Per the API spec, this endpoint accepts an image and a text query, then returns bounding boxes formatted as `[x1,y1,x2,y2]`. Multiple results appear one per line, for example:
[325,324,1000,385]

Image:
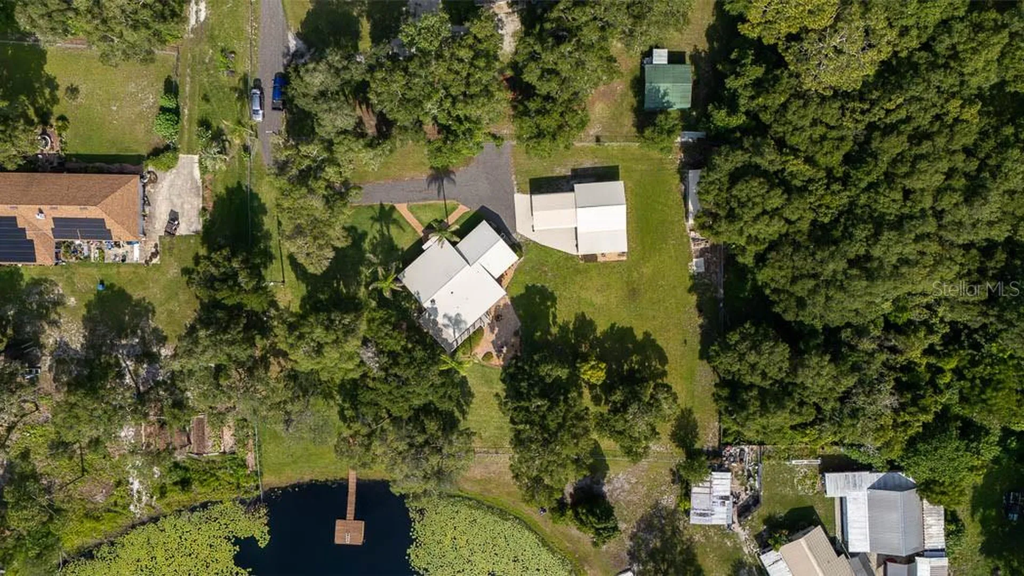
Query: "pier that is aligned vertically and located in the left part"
[334,469,365,545]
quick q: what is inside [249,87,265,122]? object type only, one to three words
car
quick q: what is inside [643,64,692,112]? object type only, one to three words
shed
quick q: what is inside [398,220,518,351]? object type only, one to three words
house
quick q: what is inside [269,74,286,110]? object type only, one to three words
vehicle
